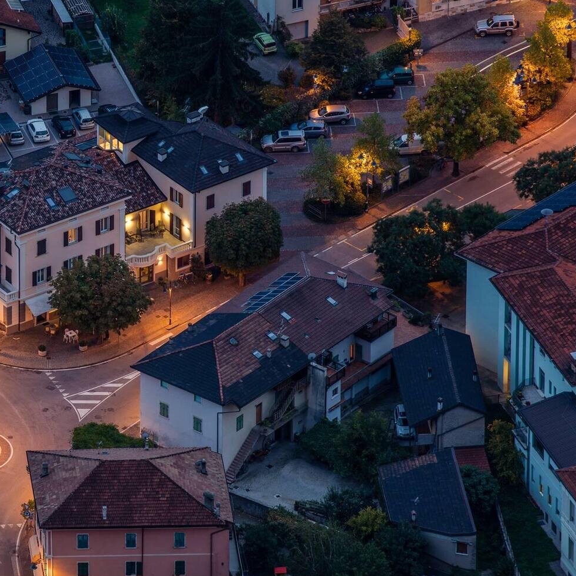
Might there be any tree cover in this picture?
Yes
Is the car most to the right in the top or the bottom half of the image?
top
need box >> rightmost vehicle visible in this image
[473,10,522,37]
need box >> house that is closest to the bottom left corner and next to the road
[23,446,233,576]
